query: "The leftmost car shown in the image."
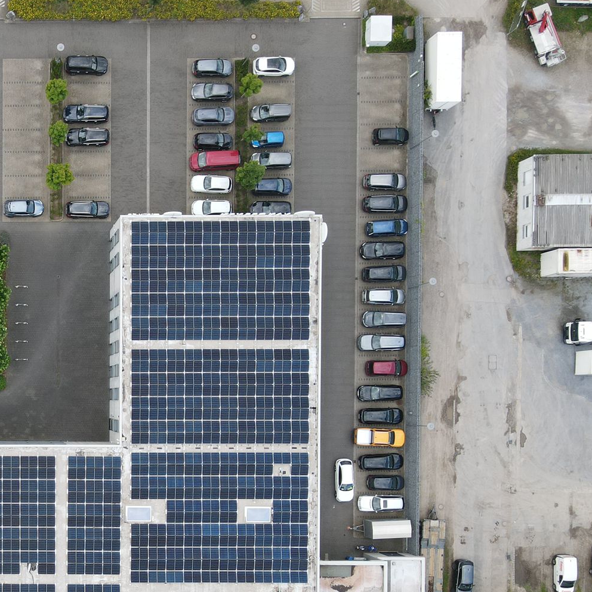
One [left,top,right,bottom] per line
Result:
[4,198,45,218]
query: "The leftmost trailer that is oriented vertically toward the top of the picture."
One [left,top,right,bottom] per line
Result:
[423,31,463,130]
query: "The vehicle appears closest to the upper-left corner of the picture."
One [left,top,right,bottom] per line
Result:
[64,53,109,78]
